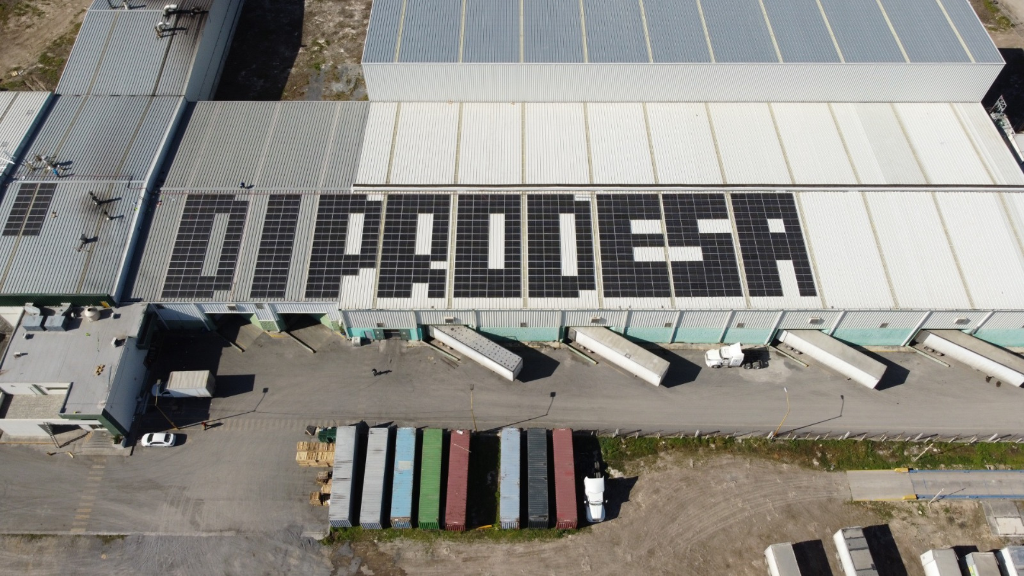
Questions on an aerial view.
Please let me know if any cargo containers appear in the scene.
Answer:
Yes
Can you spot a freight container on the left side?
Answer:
Yes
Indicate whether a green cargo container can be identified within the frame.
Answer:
Yes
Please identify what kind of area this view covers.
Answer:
industrial area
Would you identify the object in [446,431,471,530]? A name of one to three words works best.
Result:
shipping container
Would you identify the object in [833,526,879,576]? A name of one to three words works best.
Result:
trailer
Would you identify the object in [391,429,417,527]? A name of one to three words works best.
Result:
shipping container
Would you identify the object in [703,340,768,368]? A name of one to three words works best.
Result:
truck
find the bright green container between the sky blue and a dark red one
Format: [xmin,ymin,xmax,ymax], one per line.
[419,430,444,529]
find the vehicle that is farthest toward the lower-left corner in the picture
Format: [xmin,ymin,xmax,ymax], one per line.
[141,431,178,448]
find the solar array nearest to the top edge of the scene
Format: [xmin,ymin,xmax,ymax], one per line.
[1,184,56,237]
